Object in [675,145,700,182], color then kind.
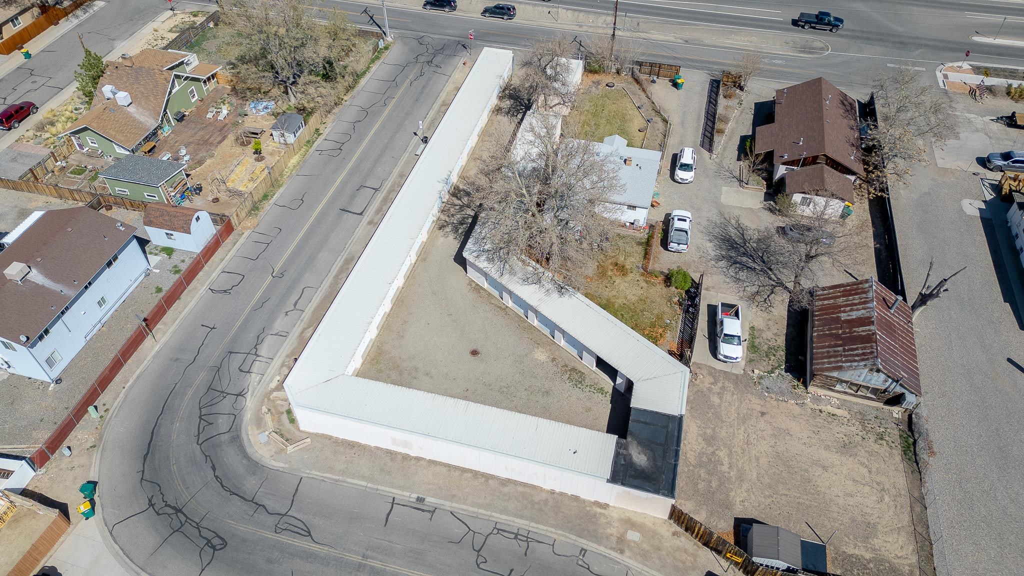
white car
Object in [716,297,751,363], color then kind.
white truck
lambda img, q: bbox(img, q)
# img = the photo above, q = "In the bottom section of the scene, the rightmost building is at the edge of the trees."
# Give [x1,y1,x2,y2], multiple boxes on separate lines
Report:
[806,277,924,416]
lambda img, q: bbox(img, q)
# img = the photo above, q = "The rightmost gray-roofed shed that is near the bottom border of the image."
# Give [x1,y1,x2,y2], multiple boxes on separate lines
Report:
[751,509,812,572]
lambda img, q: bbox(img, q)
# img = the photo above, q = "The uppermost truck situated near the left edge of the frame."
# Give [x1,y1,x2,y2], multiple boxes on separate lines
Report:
[0,99,40,129]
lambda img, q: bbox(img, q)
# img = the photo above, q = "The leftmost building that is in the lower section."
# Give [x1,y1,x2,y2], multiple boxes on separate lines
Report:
[0,455,35,499]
